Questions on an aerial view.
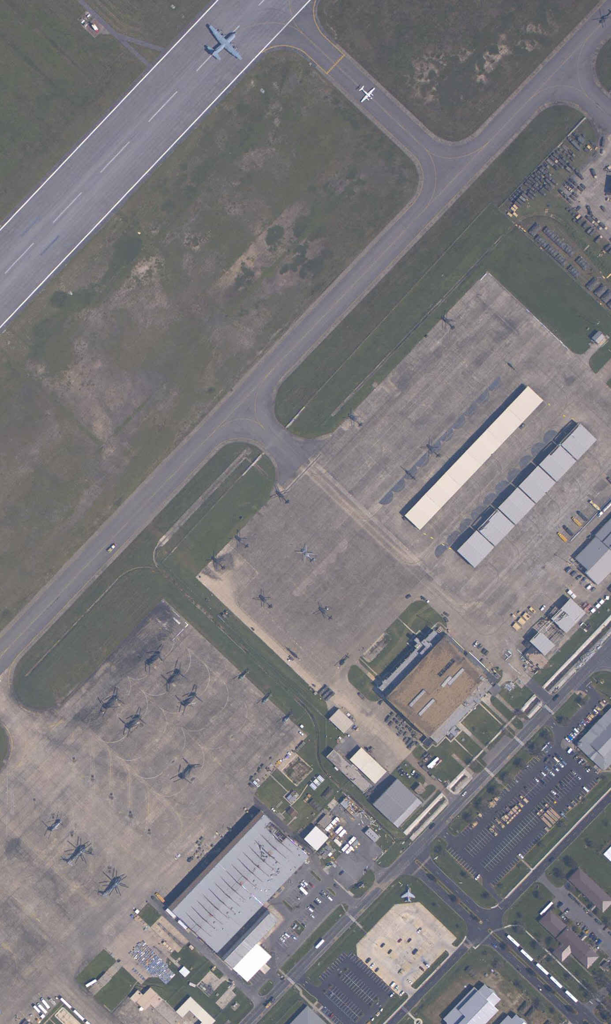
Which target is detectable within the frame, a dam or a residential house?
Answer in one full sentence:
Looking from above, you can make out a residential house.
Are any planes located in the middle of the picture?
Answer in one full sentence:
No, I see no plane in the middle of the picture.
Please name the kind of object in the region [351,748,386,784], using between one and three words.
building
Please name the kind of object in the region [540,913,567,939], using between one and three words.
house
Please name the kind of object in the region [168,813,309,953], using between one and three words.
hangar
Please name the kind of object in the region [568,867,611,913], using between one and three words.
house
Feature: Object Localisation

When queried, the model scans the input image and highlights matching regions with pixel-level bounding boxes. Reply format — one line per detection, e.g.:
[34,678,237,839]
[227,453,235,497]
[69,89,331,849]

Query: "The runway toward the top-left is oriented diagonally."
[0,0,310,328]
